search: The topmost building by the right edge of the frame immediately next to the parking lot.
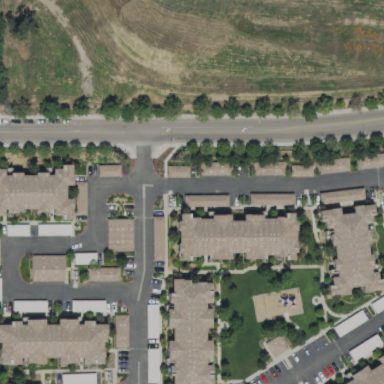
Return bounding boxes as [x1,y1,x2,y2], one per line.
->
[320,206,382,298]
